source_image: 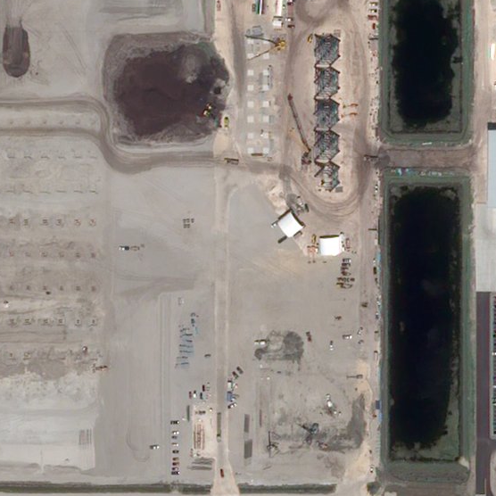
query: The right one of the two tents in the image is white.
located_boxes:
[322,234,344,253]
